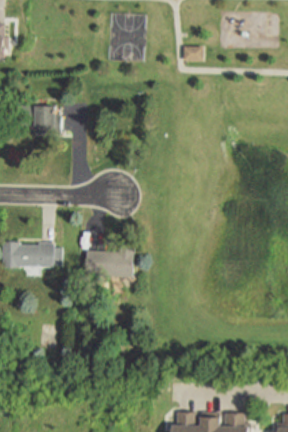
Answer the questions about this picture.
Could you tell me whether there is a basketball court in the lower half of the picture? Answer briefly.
No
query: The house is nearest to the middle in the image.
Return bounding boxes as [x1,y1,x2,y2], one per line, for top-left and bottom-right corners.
[86,249,136,278]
